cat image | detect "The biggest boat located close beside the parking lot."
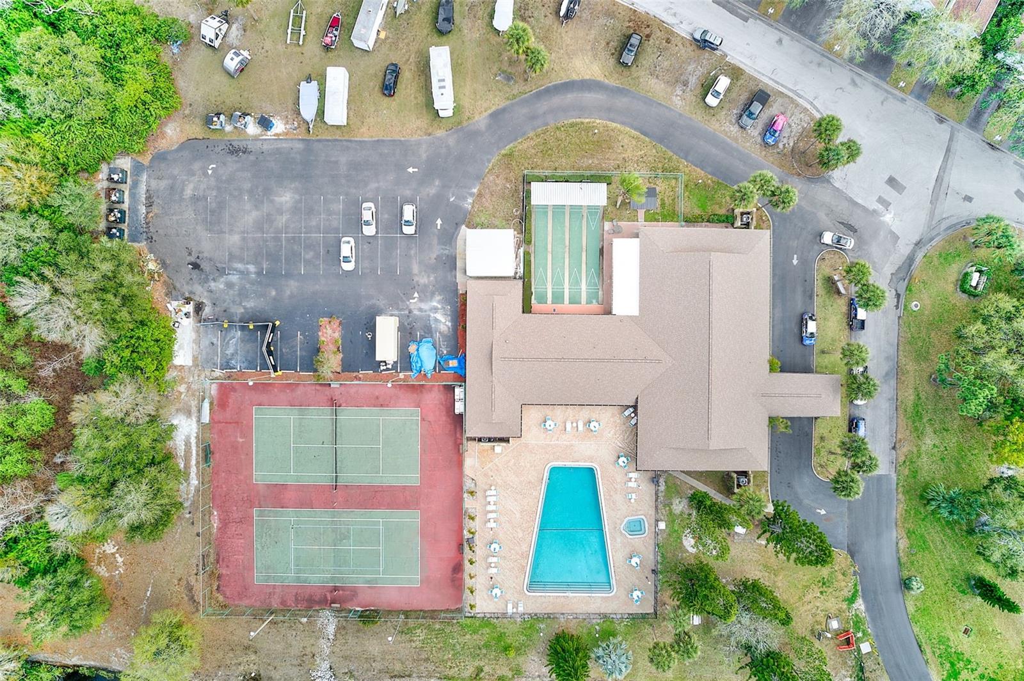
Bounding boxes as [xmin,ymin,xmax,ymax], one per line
[300,74,317,123]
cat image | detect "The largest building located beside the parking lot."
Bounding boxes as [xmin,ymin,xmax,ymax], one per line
[466,228,840,473]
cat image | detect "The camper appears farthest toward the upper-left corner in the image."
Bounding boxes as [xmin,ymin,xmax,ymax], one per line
[203,12,229,46]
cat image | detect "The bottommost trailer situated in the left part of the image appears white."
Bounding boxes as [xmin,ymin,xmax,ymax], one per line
[376,317,399,371]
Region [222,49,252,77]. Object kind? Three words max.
camper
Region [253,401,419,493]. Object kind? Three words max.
tennis court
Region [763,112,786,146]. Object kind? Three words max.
car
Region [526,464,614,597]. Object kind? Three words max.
swimming pool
